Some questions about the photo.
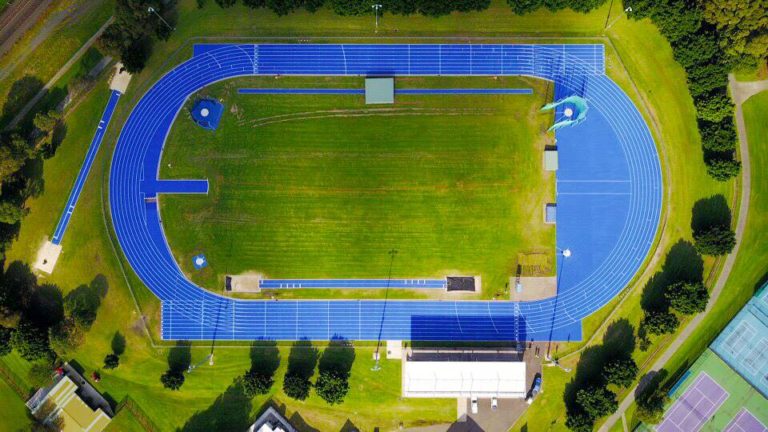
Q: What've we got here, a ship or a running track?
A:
running track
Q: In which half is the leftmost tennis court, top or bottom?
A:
bottom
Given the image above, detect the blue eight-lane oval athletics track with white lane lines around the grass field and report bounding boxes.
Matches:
[109,44,661,340]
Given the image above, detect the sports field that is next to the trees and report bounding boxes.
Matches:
[158,75,558,300]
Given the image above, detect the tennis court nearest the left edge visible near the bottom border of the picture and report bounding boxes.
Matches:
[655,371,730,432]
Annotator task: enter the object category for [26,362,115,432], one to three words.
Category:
building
